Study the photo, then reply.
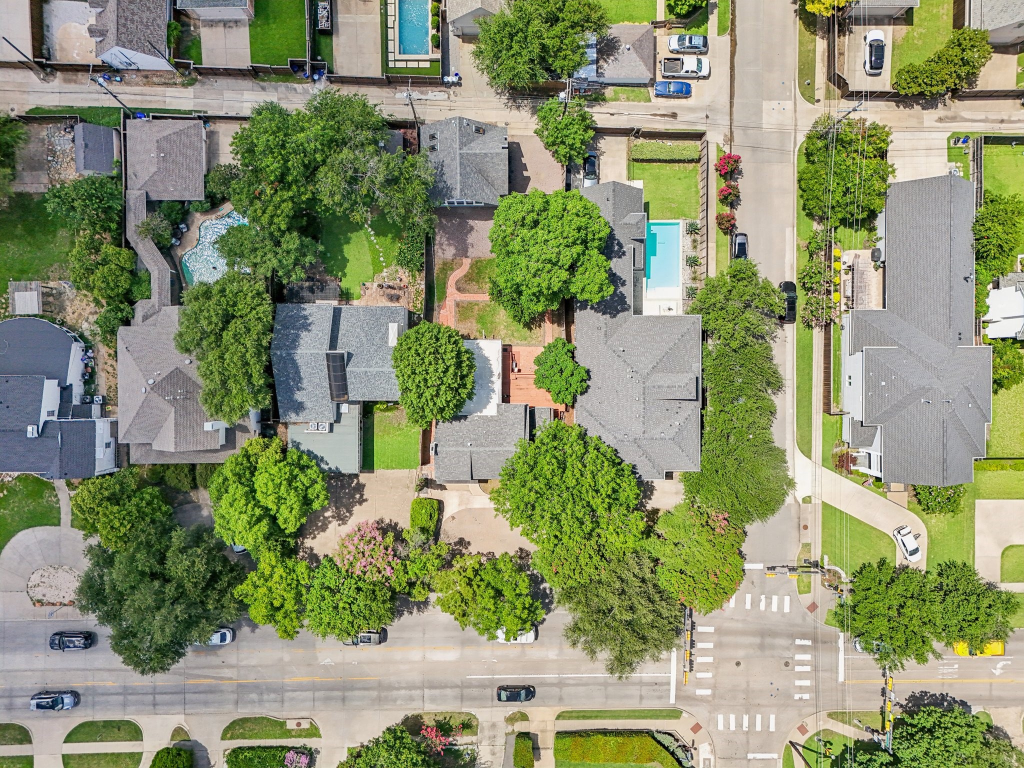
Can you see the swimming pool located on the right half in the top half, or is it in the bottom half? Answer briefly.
top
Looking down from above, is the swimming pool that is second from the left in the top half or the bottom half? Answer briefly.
top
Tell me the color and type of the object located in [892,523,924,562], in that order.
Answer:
white car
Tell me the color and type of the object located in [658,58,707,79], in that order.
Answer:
white truck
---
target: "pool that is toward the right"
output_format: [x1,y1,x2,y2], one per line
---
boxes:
[643,221,682,315]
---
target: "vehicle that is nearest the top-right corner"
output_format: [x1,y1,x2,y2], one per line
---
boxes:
[862,35,884,76]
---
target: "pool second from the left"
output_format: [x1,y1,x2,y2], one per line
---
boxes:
[395,0,432,58]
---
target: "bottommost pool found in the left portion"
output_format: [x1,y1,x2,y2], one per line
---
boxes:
[179,212,257,298]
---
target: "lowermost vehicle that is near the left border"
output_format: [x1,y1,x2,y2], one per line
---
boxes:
[30,689,81,711]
